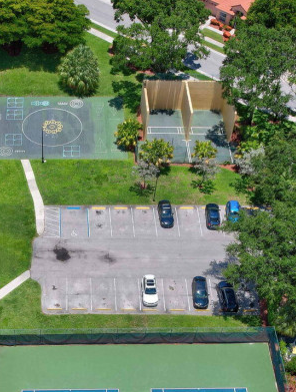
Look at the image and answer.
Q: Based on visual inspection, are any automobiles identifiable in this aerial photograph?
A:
Yes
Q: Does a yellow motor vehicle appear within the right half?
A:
No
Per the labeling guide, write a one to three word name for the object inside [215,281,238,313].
car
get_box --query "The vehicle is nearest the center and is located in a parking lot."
[158,202,175,230]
